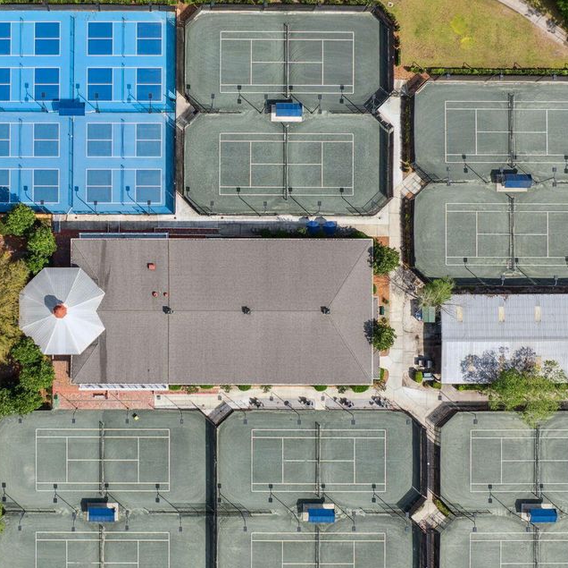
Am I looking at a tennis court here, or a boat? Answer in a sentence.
Visible in the photo is a tennis court.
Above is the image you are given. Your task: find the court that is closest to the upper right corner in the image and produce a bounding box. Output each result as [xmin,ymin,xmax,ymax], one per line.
[410,81,568,182]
